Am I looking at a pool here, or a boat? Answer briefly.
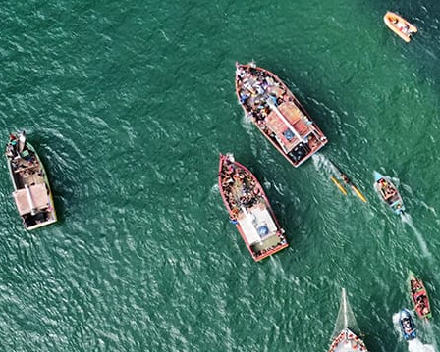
boat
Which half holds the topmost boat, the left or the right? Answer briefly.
right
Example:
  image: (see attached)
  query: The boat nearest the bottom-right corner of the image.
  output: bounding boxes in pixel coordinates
[397,310,417,343]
